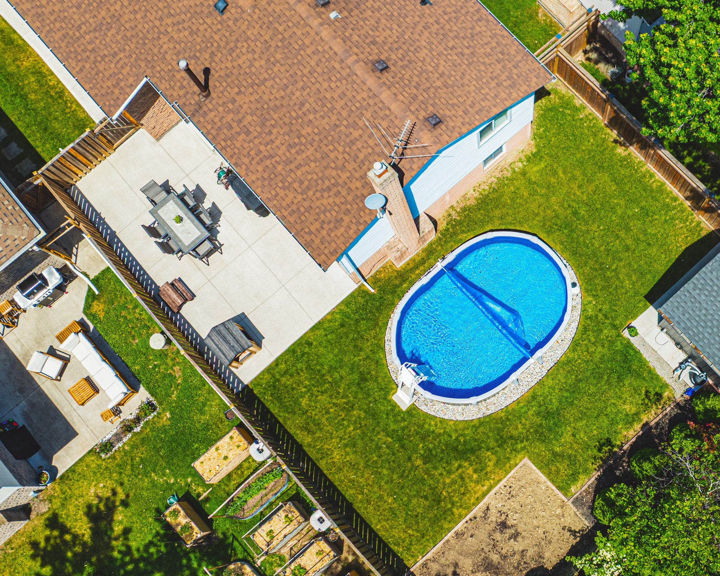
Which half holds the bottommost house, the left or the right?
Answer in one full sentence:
The bottommost house sits on the left side.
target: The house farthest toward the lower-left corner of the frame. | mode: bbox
[0,432,47,547]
